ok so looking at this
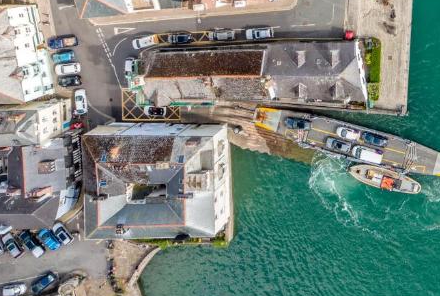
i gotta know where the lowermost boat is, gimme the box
[348,165,422,193]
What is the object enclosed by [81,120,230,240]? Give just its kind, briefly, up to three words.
house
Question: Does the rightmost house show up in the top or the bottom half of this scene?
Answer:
top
